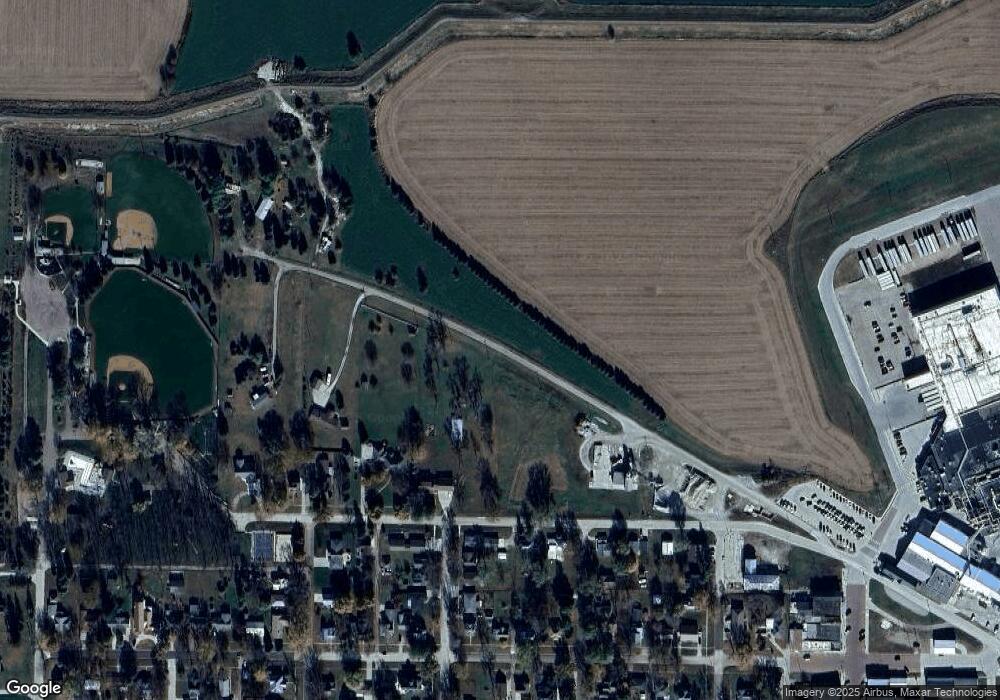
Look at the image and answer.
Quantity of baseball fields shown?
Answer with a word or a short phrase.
3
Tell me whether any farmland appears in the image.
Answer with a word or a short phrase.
Yes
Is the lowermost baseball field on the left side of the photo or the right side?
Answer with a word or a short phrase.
left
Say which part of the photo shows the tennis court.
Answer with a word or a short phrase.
bottom left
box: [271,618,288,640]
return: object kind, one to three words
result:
house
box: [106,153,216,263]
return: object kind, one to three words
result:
baseball field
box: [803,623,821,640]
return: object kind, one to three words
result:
building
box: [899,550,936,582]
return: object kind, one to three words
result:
building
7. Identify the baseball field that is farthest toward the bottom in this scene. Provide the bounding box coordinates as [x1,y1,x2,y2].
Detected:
[88,268,218,422]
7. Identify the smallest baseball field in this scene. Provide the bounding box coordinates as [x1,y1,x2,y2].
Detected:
[42,184,100,251]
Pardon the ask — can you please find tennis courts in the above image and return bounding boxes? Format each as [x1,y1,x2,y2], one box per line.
[252,531,274,562]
